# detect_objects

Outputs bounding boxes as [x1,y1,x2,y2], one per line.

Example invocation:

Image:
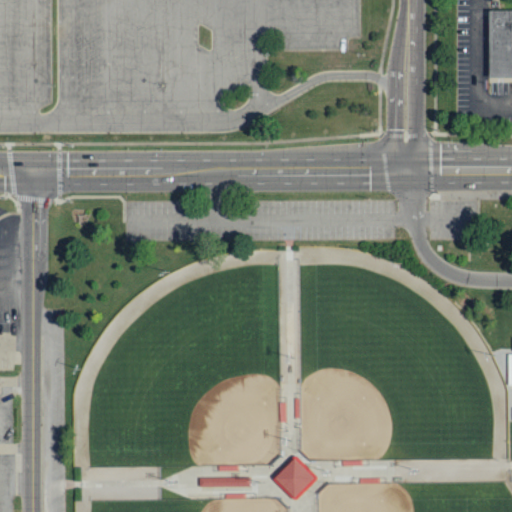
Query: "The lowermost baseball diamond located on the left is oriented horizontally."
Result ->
[92,488,288,512]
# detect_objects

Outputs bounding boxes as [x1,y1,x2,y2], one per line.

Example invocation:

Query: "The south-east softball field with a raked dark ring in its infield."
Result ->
[318,483,512,512]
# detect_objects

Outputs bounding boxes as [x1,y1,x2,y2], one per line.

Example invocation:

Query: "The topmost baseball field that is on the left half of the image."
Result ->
[89,265,280,478]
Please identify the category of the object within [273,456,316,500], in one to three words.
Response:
building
